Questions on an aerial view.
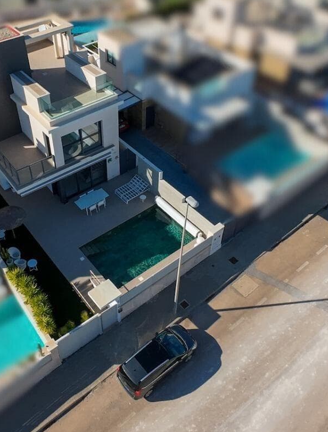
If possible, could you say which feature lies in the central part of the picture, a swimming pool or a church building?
swimming pool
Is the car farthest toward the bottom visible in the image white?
No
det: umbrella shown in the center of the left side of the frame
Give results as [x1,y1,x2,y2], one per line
[0,206,27,237]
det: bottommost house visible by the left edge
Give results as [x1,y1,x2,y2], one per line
[0,15,124,210]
